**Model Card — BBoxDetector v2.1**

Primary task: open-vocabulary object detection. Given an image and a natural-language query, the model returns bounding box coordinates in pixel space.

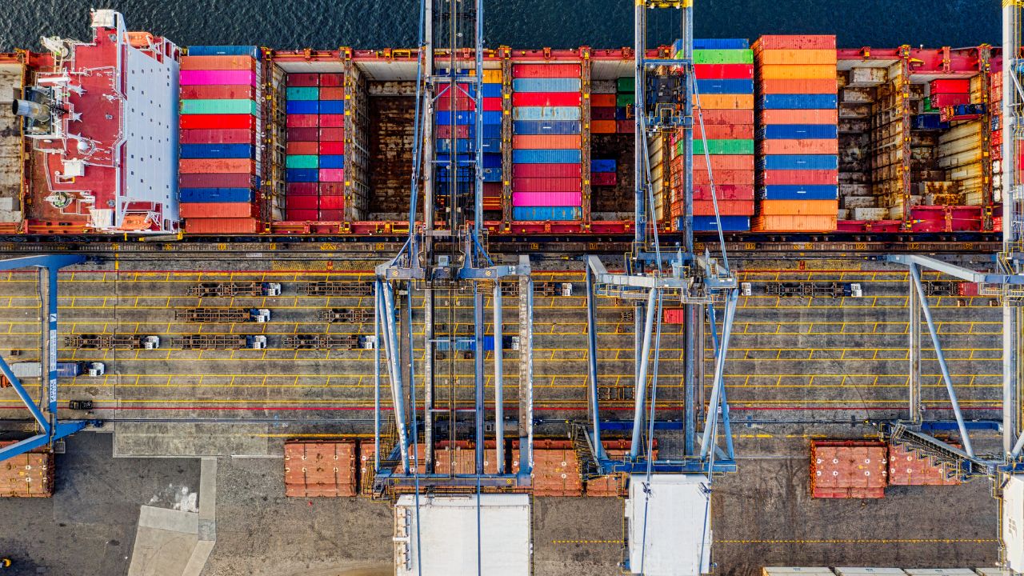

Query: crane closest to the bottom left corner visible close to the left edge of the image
[0,254,105,464]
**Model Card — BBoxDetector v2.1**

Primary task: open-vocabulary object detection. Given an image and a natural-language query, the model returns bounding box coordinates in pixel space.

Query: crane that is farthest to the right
[863,0,1024,573]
